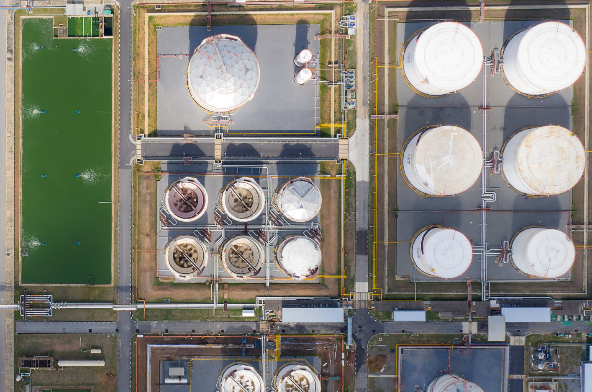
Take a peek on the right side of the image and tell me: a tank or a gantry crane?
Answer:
tank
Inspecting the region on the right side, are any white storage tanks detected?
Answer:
Yes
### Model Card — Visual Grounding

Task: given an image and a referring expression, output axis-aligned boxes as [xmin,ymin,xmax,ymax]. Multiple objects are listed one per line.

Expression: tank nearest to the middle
[269,174,322,225]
